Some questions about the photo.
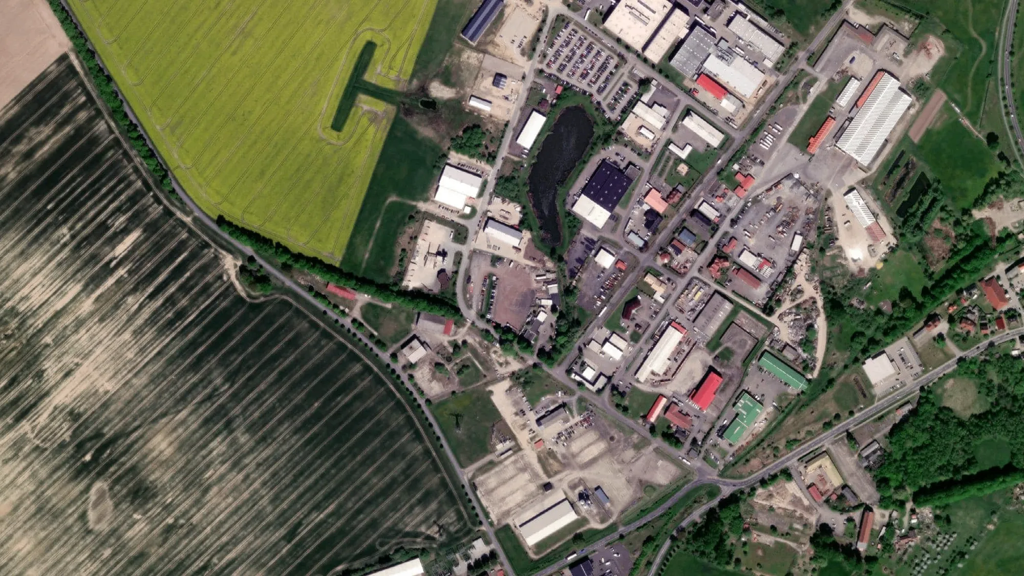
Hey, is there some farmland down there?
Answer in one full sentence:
Yes, farmland can be seen from above here.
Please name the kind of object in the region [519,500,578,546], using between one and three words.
building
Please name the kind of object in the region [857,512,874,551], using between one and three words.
barn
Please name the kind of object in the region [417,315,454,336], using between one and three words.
barn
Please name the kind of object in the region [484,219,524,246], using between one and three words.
building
